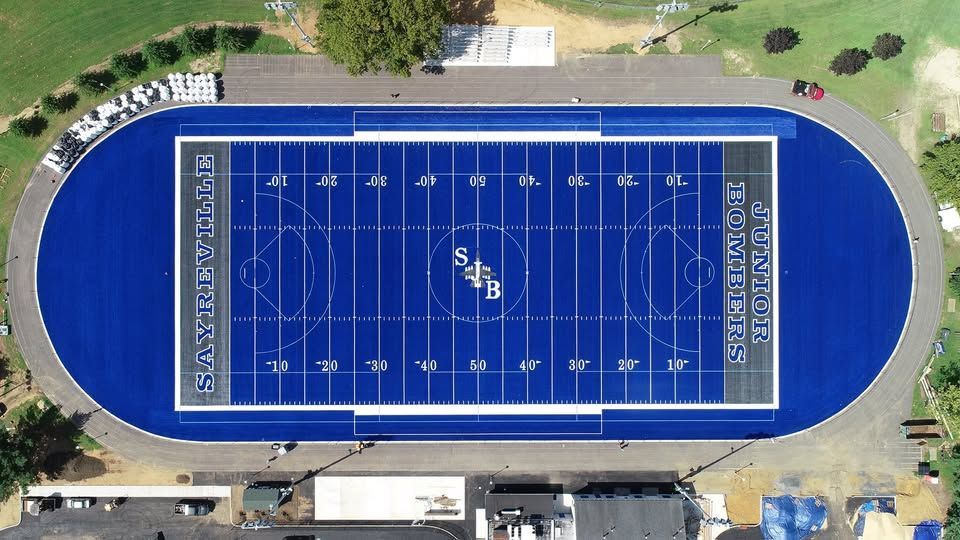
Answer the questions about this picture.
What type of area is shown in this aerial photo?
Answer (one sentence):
It's a sports ground.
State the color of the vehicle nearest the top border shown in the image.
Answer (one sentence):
The vehicle nearest the top border looks red in the image.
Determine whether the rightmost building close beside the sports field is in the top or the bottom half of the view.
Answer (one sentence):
The bottom half of the photo is where the rightmost building close beside the sports field is.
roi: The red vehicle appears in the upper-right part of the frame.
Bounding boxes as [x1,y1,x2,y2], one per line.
[791,79,828,98]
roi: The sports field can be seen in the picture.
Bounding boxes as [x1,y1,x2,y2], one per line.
[175,112,779,433]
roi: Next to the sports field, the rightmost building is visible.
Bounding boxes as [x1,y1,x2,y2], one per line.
[566,488,684,540]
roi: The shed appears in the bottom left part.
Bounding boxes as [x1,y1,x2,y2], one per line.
[242,484,282,512]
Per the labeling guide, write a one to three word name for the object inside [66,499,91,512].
vehicle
